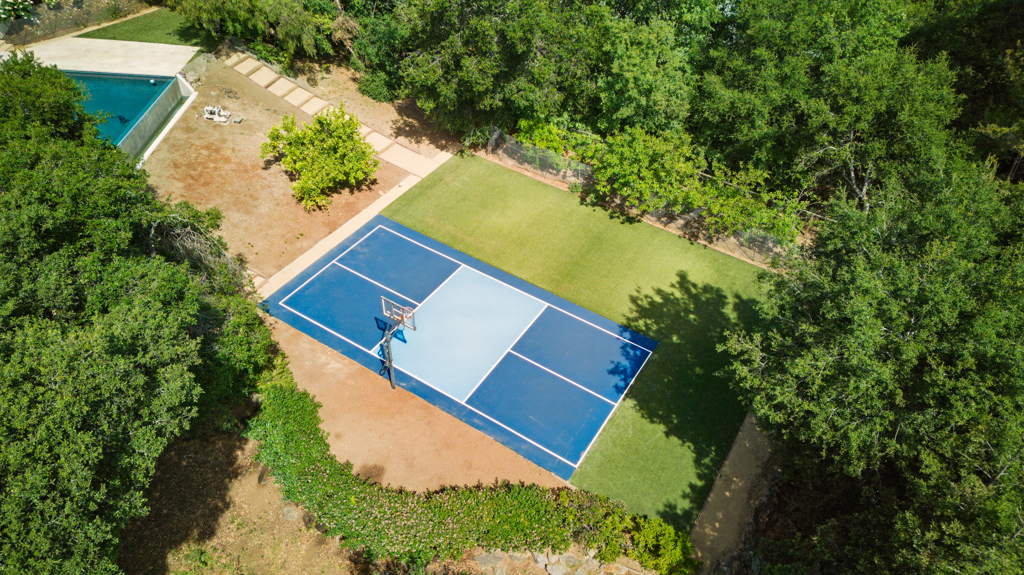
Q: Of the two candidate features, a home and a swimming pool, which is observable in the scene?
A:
swimming pool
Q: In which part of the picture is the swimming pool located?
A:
top left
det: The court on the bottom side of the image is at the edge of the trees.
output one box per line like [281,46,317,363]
[260,215,658,482]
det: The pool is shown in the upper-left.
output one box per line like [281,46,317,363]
[1,64,196,182]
